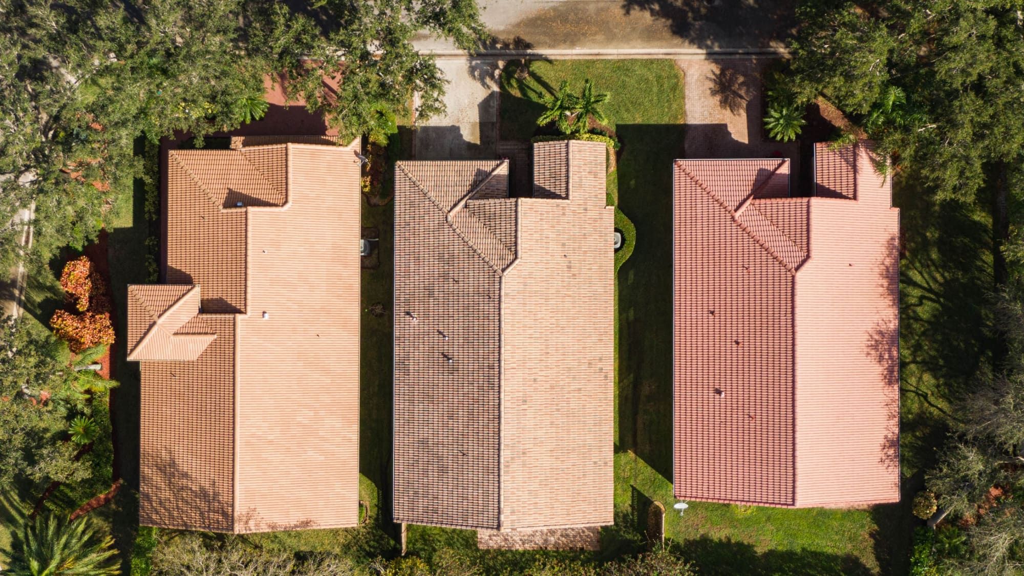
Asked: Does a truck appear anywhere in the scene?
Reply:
No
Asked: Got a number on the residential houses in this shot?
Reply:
3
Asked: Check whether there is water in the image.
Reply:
No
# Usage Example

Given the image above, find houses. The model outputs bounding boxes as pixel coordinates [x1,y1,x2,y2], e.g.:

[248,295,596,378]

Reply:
[124,134,362,538]
[671,138,902,511]
[391,139,615,535]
